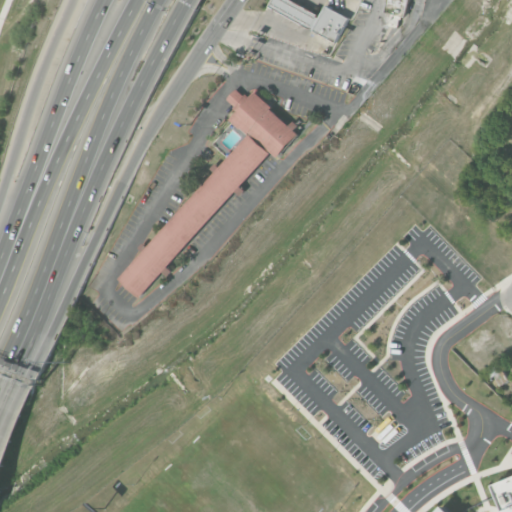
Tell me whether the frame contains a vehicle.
Yes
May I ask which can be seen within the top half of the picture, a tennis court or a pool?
pool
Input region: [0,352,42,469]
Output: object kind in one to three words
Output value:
bridge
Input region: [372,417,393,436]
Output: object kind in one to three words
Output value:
vehicle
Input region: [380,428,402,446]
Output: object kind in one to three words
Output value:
vehicle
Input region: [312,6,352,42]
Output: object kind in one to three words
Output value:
building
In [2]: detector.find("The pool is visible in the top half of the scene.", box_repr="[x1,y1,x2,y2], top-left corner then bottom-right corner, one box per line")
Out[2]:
[213,123,248,156]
